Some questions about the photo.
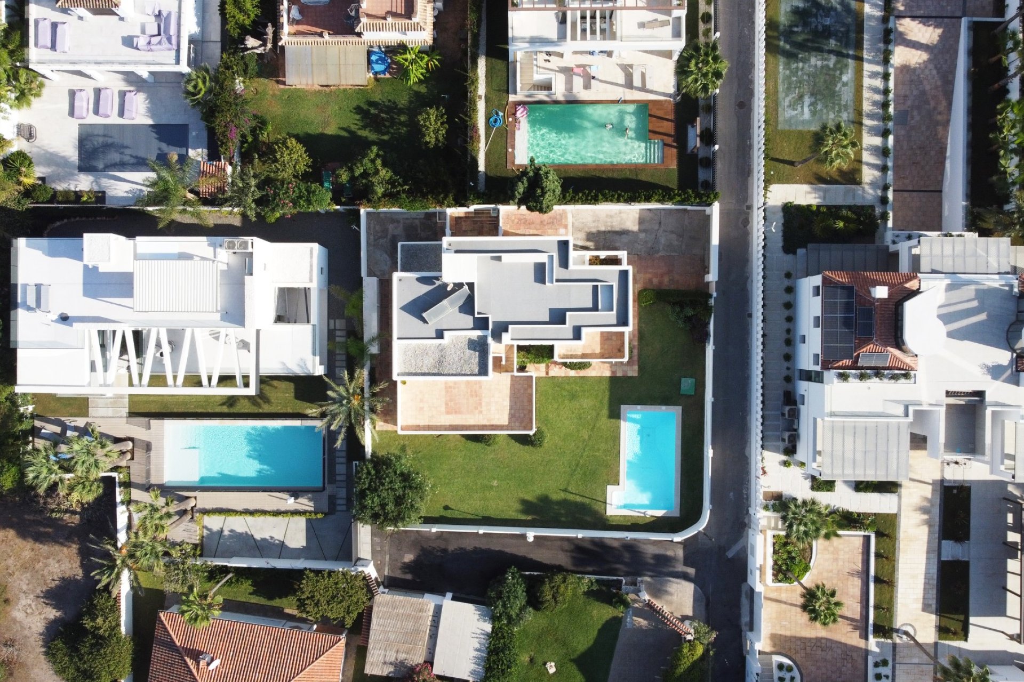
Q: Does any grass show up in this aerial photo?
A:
Yes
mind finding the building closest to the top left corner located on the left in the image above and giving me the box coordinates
[31,0,196,82]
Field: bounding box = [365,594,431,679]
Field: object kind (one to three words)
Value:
shed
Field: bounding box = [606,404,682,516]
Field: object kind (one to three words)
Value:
swimming pool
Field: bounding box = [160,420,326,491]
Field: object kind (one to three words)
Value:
swimming pool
